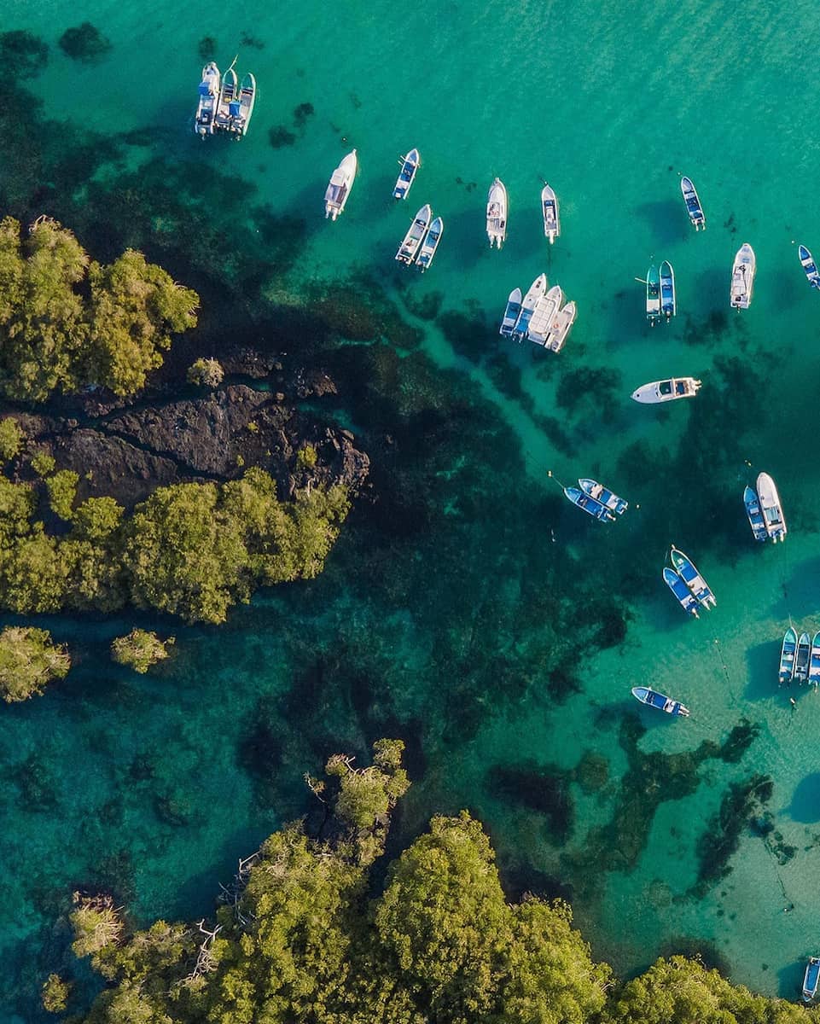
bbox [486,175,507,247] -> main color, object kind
white boat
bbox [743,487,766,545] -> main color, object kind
blue boat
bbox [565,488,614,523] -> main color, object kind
blue boat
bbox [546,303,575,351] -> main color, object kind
white boat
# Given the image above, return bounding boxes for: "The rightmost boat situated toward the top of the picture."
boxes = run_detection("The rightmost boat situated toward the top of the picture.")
[798,246,820,295]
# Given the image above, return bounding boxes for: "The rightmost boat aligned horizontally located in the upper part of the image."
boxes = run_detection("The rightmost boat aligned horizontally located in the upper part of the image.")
[630,376,705,403]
